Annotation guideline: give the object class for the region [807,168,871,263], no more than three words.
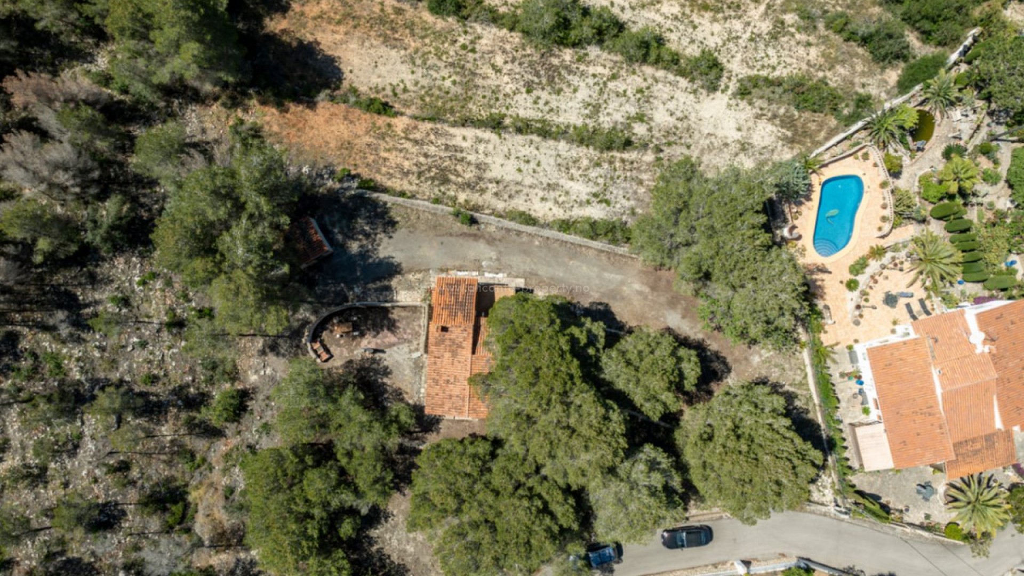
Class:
swimming pool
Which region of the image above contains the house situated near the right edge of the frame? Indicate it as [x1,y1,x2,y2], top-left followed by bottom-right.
[851,290,1024,480]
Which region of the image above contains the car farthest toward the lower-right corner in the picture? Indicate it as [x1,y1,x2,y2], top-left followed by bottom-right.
[663,524,710,550]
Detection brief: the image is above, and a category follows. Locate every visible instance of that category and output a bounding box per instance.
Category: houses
[424,277,535,419]
[851,290,1024,480]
